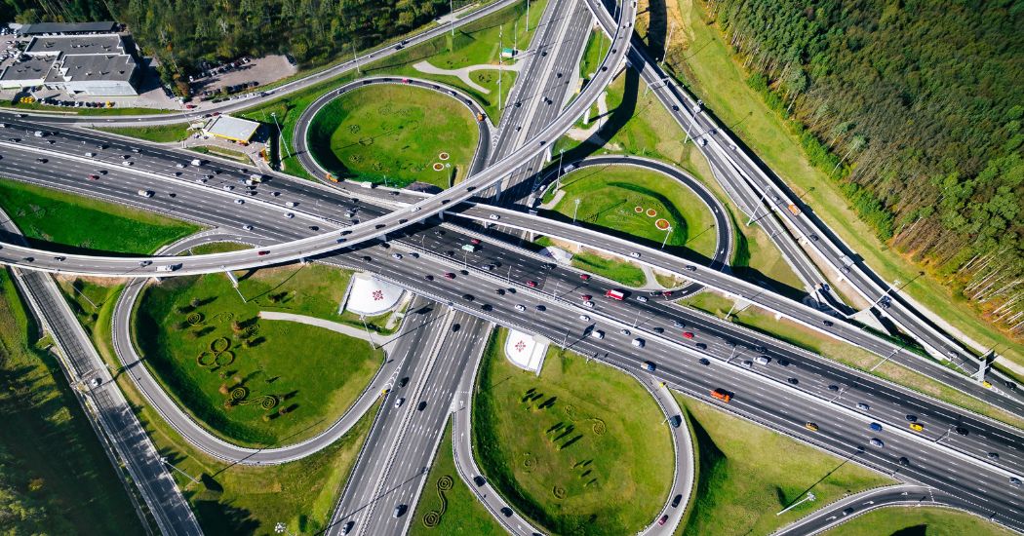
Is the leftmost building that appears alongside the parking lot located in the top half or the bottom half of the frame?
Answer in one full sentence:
It is in the top half that the leftmost building that appears alongside the parking lot appears.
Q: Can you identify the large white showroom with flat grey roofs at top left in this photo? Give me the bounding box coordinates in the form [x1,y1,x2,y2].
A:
[0,34,141,92]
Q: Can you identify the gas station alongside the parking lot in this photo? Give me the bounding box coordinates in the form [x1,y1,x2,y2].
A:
[196,115,260,142]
